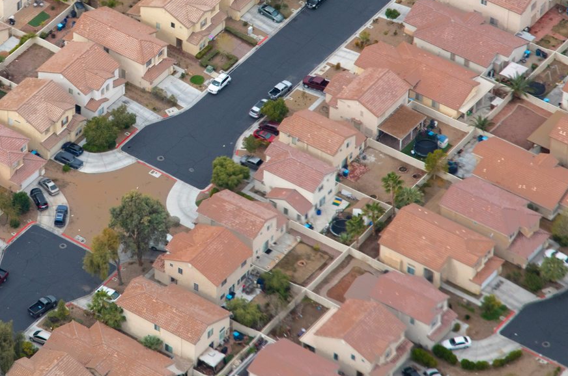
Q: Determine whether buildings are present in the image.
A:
Yes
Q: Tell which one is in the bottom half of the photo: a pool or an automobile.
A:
automobile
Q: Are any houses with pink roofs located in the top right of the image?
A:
Yes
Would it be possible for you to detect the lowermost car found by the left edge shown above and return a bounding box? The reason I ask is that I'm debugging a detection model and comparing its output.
[26,329,54,349]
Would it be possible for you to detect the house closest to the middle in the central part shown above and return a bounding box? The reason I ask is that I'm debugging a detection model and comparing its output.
[254,144,337,225]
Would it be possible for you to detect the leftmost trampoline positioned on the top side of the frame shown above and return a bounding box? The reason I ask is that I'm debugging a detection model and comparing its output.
[413,130,440,152]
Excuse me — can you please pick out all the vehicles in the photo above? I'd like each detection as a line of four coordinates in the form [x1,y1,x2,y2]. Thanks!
[0,269,10,285]
[54,205,68,229]
[307,0,324,8]
[252,128,279,144]
[38,177,62,197]
[26,329,54,349]
[26,296,60,319]
[255,121,282,137]
[300,74,331,94]
[32,192,47,209]
[442,336,472,350]
[546,251,568,267]
[243,154,266,171]
[267,80,293,102]
[61,141,85,157]
[208,73,231,94]
[94,282,124,301]
[259,6,284,22]
[55,152,81,169]
[247,101,267,120]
